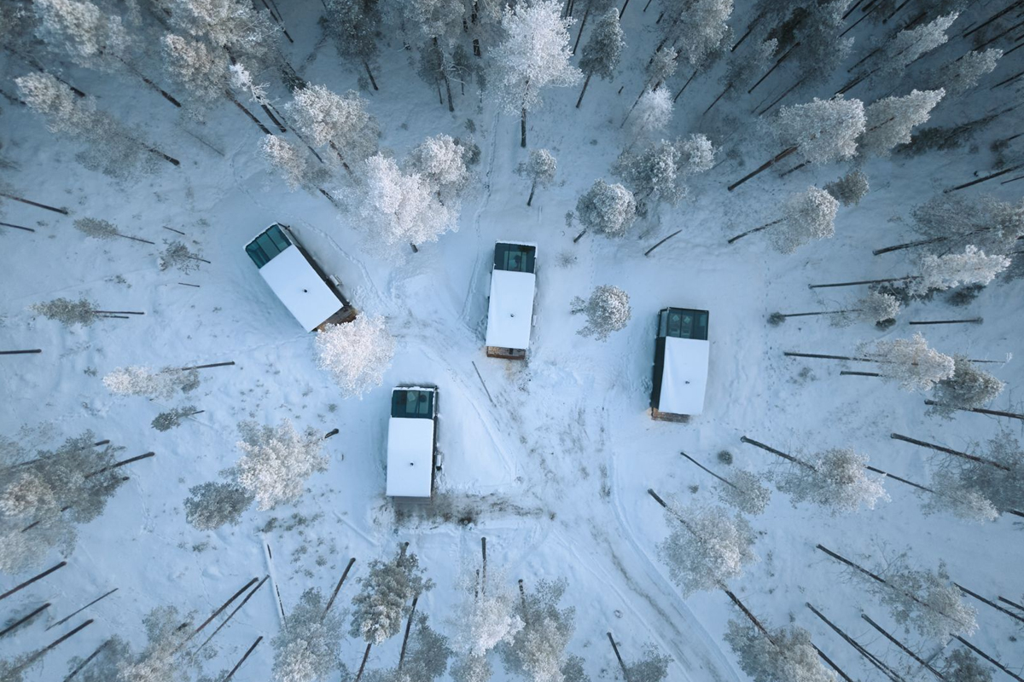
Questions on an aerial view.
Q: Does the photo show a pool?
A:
No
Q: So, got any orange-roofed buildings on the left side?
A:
No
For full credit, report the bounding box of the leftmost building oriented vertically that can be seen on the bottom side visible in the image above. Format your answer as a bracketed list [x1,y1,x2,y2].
[387,385,439,502]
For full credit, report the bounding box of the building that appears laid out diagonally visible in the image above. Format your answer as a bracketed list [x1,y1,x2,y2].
[246,222,357,340]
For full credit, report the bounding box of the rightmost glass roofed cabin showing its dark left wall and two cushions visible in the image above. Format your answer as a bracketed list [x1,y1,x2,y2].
[653,305,710,425]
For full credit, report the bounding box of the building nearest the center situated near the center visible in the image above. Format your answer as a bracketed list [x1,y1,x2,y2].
[485,239,539,362]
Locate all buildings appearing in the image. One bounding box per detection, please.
[485,239,539,362]
[246,222,357,340]
[387,385,439,502]
[653,305,710,425]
